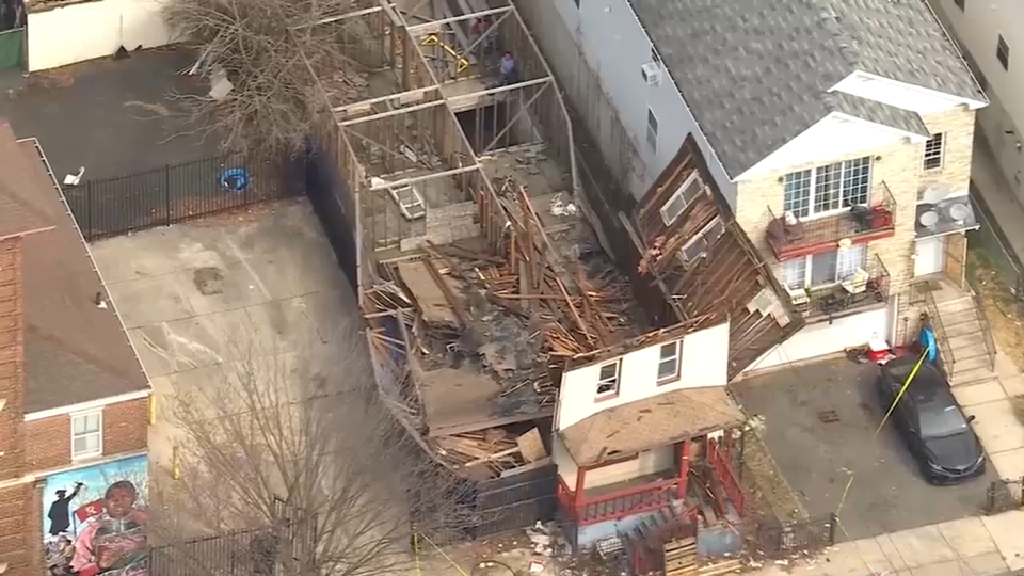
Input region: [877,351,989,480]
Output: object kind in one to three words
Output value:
car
